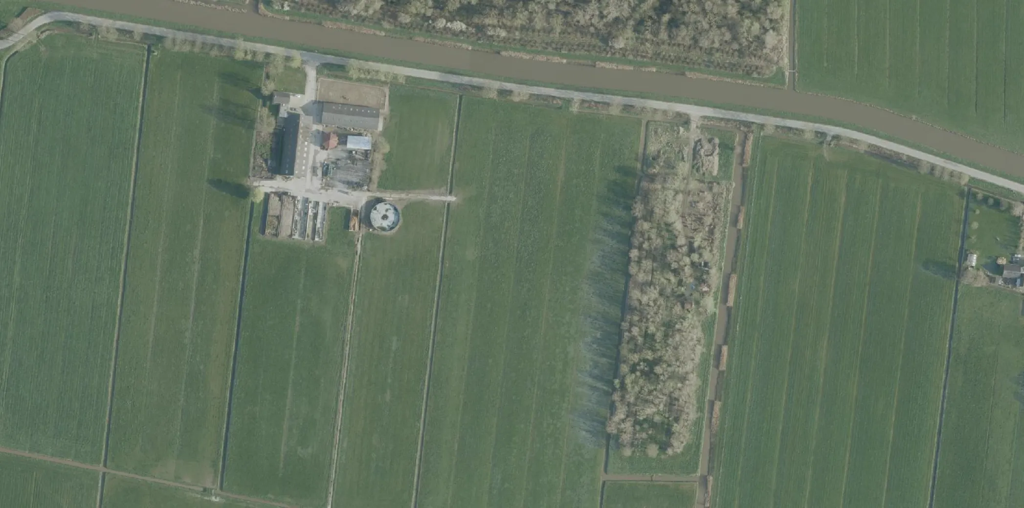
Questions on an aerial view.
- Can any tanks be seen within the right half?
No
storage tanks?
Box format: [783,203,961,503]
[370,203,399,232]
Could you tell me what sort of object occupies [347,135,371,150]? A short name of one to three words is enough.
shed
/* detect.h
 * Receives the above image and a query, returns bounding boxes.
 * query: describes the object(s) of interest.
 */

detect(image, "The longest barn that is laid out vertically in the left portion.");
[280,112,313,178]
